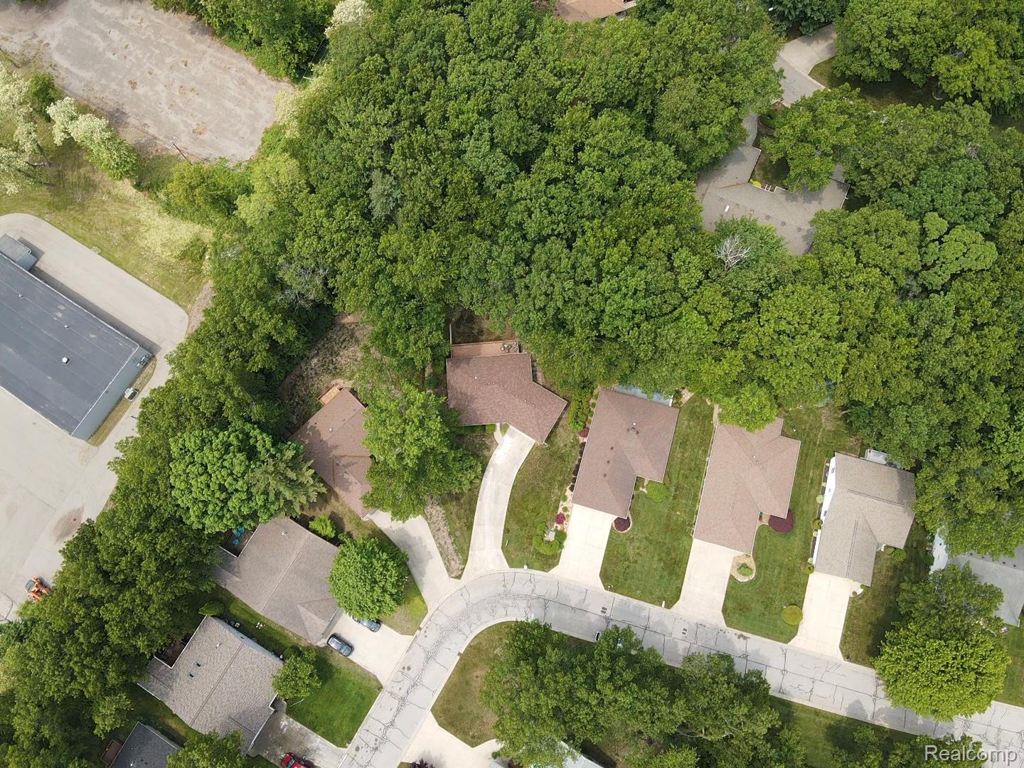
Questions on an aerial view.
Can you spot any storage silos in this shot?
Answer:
No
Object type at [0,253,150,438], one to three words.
warehouse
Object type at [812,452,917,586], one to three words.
house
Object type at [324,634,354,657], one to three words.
car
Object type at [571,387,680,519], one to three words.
house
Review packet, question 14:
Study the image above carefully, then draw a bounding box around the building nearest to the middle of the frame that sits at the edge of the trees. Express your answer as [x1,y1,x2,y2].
[446,353,568,443]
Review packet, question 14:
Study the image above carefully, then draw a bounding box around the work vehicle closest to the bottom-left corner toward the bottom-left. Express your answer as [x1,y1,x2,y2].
[15,576,49,602]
